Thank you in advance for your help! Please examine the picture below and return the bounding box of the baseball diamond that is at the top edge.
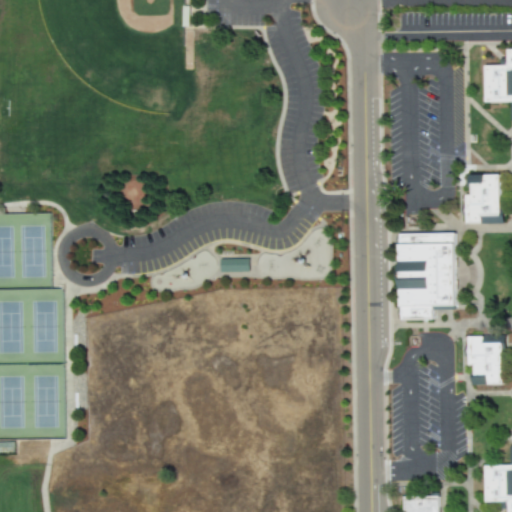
[38,0,189,114]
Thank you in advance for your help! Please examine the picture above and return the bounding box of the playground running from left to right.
[121,215,334,292]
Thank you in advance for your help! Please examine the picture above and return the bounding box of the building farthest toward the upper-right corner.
[484,48,512,102]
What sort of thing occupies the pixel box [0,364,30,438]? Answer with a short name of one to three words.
tennis court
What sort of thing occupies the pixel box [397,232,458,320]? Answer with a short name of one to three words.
building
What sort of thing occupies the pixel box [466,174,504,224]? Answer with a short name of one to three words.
building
